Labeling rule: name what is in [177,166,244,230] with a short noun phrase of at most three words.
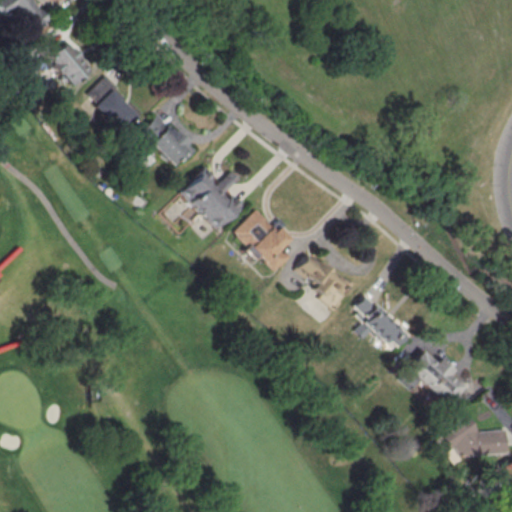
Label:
house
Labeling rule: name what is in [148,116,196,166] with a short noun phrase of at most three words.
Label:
house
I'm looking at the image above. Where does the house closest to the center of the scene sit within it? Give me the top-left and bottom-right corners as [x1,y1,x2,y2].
[232,209,296,272]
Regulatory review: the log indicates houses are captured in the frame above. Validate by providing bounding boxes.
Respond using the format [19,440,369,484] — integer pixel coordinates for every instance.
[232,209,296,272]
[148,116,196,166]
[413,350,473,399]
[448,423,512,460]
[177,166,244,230]
[353,298,413,352]
[52,40,96,90]
[294,256,353,306]
[0,0,45,22]
[84,76,138,129]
